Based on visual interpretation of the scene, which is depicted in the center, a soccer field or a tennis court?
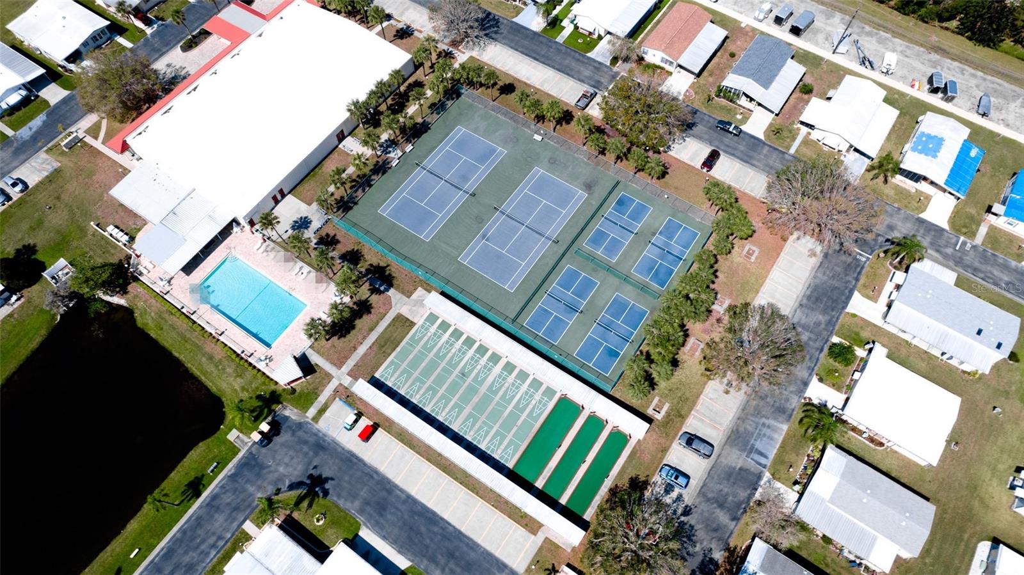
tennis court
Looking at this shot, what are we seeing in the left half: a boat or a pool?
pool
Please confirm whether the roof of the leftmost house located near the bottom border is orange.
No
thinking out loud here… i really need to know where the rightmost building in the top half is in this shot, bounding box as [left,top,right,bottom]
[984,170,1024,251]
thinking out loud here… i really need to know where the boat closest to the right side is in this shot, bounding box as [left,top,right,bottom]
[976,92,992,117]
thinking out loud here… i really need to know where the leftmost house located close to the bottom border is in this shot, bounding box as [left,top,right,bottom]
[225,523,322,575]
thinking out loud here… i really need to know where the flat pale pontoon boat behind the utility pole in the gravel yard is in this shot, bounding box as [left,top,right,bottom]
[834,29,850,54]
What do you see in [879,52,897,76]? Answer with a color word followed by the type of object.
white boat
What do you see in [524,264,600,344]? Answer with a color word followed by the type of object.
blue sports court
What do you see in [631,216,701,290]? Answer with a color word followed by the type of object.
blue sports court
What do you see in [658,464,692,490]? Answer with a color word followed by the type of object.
blue car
